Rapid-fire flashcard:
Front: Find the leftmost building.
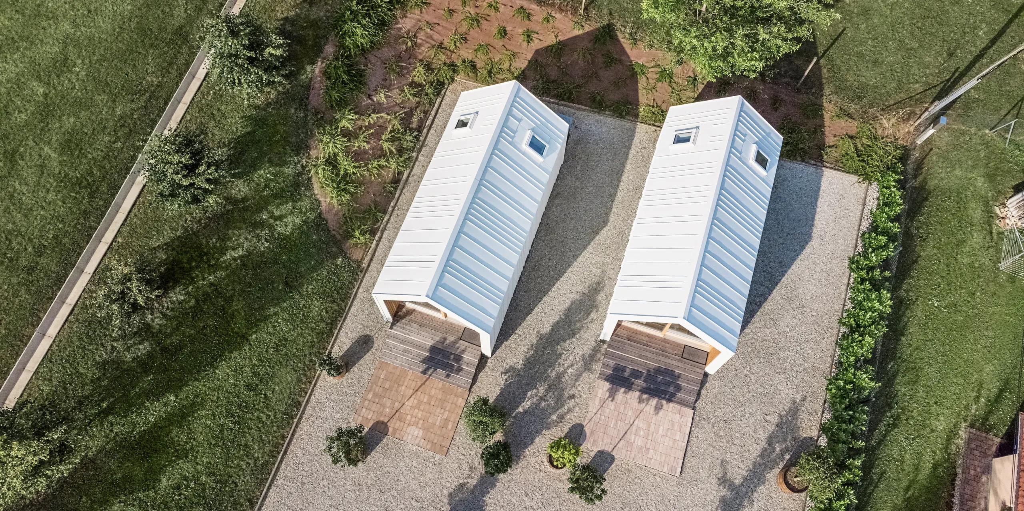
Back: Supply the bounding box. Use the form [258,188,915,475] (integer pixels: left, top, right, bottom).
[371,79,568,359]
